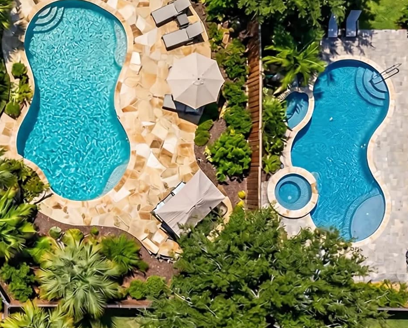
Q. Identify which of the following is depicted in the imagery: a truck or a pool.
pool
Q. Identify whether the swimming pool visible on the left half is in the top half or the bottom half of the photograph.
top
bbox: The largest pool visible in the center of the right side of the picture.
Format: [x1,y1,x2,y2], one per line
[286,54,395,247]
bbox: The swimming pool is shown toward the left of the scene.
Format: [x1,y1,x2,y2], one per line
[12,0,136,206]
